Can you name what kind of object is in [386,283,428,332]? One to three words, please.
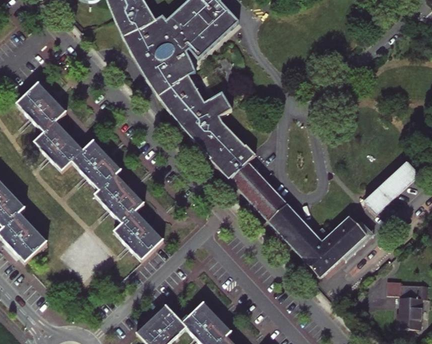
house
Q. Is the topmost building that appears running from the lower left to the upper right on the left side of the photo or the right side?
right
